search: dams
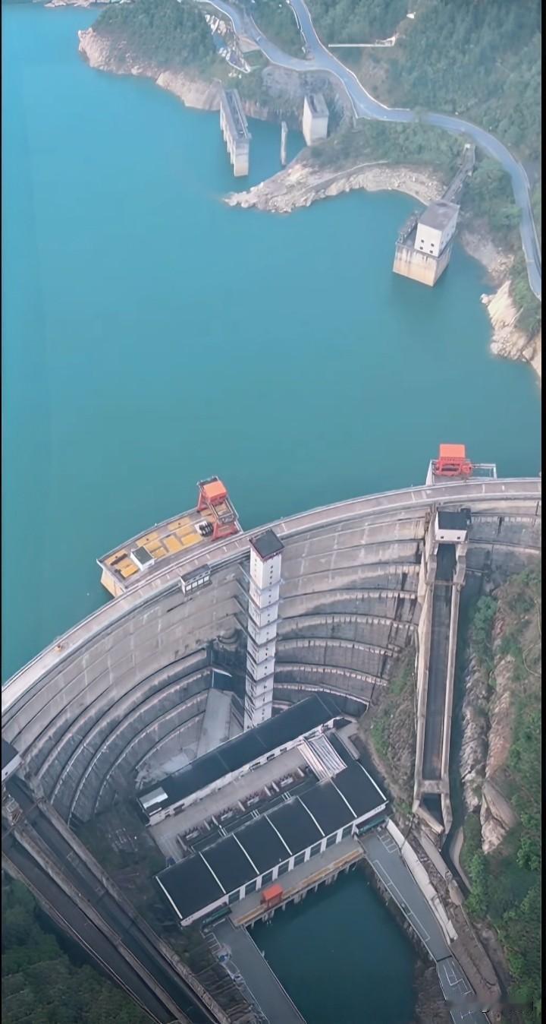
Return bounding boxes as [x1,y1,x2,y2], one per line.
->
[0,477,546,859]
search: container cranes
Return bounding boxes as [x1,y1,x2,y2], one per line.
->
[432,444,474,480]
[195,474,242,546]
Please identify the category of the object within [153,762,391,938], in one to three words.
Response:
building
